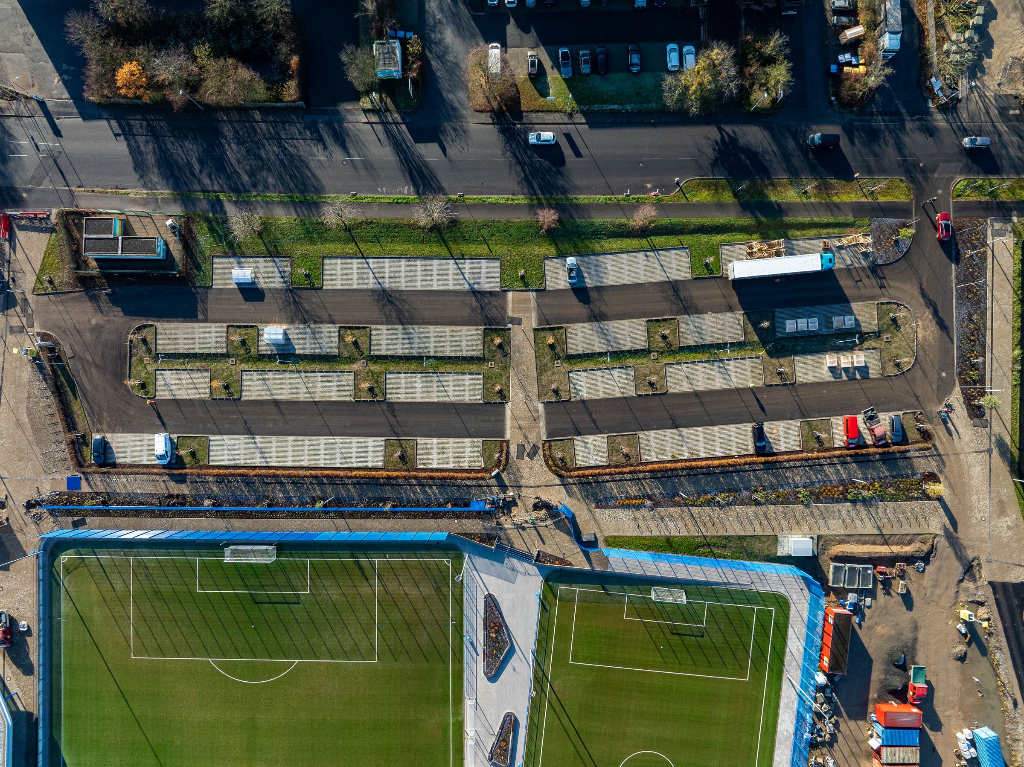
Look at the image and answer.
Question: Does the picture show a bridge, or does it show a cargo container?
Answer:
cargo container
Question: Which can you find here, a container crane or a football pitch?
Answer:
football pitch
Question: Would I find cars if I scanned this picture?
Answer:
Yes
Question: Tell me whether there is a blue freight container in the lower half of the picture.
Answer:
Yes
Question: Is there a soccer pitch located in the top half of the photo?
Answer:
No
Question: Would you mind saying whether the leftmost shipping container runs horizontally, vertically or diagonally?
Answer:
vertically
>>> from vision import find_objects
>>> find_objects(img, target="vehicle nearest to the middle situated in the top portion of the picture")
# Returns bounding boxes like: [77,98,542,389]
[566,257,578,284]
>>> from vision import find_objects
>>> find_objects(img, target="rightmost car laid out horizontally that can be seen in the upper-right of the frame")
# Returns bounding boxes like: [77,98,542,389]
[961,135,992,149]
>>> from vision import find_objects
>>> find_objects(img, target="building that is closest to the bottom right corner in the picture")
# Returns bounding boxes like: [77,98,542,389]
[788,536,812,556]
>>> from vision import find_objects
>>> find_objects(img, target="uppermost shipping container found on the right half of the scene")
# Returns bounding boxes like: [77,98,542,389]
[821,608,853,675]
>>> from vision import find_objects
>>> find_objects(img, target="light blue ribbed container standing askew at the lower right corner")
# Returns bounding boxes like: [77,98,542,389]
[973,726,1007,767]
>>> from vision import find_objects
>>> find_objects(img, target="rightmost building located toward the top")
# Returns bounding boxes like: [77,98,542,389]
[373,39,402,81]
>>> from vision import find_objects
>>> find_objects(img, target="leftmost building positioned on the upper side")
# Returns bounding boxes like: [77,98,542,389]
[83,218,166,259]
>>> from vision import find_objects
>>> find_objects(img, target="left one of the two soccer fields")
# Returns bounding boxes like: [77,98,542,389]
[50,541,464,767]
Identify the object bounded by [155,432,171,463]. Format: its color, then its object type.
white vehicle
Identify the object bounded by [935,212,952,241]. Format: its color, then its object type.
red car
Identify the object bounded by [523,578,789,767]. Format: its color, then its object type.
green soccer field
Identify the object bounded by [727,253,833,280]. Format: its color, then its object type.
white truck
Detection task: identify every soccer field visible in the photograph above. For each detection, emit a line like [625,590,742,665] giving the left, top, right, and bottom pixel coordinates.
[50,541,464,767]
[523,578,789,767]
